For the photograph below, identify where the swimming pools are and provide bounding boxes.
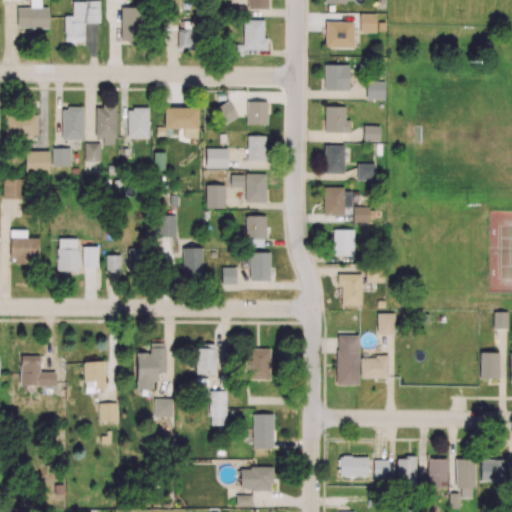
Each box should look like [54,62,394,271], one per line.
[218,466,239,485]
[360,332,380,350]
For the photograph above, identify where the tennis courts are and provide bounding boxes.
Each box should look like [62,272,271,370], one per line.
[490,212,512,292]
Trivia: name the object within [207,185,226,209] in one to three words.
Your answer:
building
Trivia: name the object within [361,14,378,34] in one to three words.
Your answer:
building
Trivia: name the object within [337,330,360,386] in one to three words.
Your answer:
house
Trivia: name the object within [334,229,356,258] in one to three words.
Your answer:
house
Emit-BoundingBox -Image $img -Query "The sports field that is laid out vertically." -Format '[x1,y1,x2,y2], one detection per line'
[389,26,512,308]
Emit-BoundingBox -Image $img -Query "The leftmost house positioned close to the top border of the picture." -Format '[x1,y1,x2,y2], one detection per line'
[18,0,50,30]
